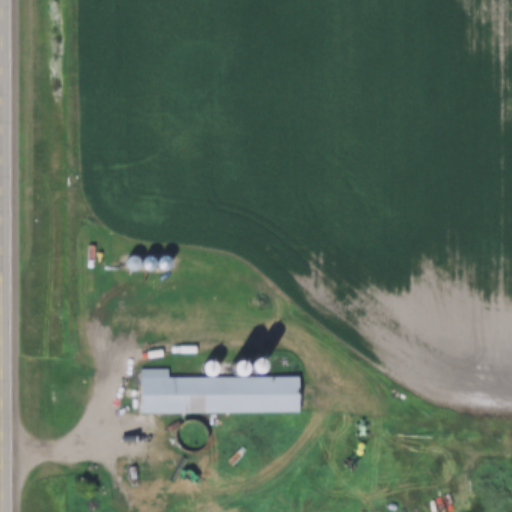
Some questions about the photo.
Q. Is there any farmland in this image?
Yes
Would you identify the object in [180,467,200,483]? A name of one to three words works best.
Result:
work vehicle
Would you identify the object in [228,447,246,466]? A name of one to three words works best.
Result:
vehicle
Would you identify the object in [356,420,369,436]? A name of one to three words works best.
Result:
vehicle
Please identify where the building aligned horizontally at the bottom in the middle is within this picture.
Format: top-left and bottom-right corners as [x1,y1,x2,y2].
[140,368,302,418]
